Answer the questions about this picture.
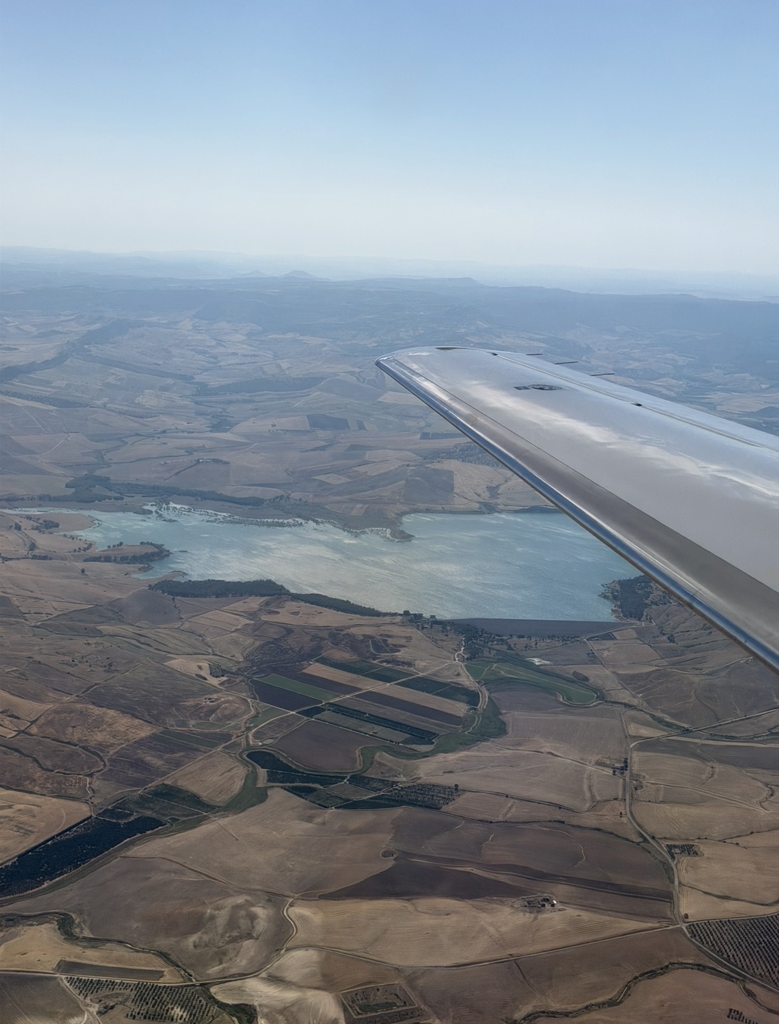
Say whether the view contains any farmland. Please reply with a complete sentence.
Yes, farmland shows up in the scene.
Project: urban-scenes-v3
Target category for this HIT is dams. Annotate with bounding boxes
[434,618,629,636]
